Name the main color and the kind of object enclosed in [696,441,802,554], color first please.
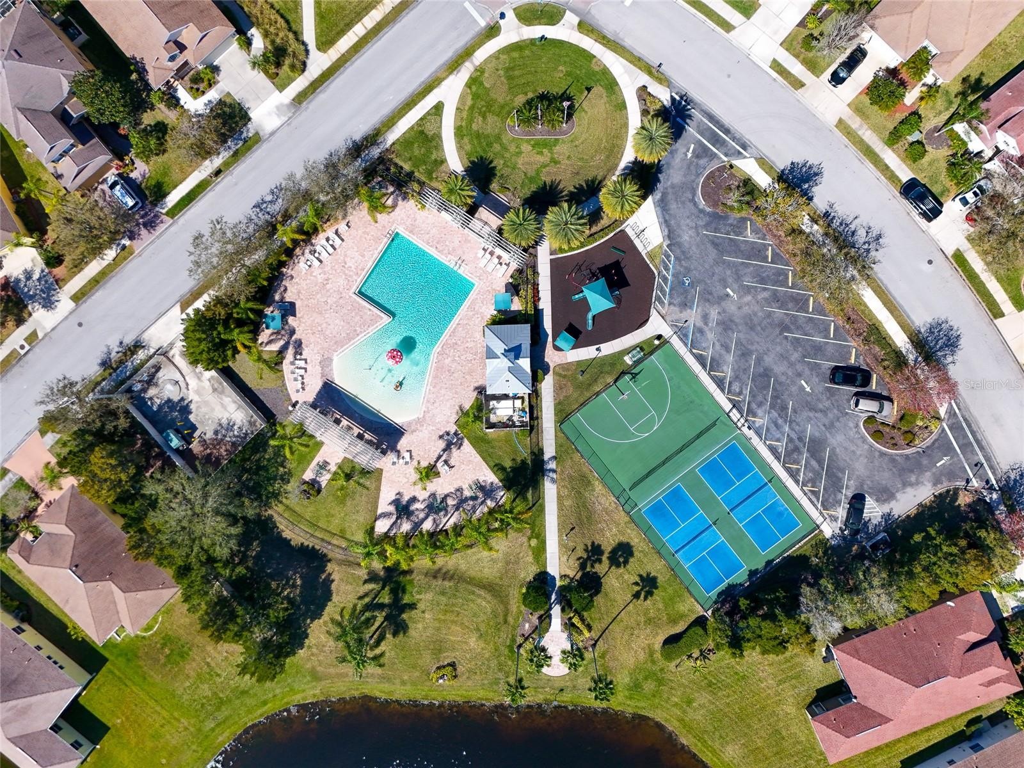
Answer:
blue sports court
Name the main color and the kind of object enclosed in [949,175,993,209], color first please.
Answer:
white car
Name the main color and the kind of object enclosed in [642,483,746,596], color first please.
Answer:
blue sports court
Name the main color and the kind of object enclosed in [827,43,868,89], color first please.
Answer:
black car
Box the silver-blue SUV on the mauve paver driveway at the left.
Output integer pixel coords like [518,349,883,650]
[108,174,143,213]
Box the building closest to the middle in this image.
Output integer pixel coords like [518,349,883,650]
[485,324,532,394]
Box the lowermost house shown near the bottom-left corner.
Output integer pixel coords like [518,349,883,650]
[0,604,93,768]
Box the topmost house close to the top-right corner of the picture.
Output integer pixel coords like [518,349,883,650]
[858,0,1024,84]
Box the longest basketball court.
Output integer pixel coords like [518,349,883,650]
[556,344,817,615]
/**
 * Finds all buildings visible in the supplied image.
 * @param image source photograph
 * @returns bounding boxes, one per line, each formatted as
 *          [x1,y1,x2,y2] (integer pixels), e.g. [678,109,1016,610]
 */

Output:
[0,0,104,166]
[0,604,93,768]
[858,0,1024,84]
[0,185,49,264]
[967,70,1024,183]
[7,484,182,645]
[807,587,1023,763]
[485,324,532,394]
[937,715,1024,768]
[80,0,239,93]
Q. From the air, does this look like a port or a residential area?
residential area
